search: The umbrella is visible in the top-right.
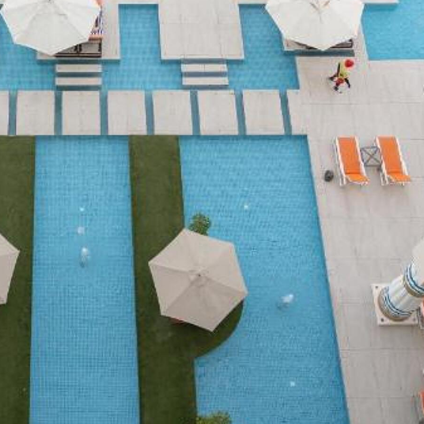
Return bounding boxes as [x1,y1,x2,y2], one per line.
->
[267,0,363,59]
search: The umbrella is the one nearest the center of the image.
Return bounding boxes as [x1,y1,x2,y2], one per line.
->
[147,228,249,332]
